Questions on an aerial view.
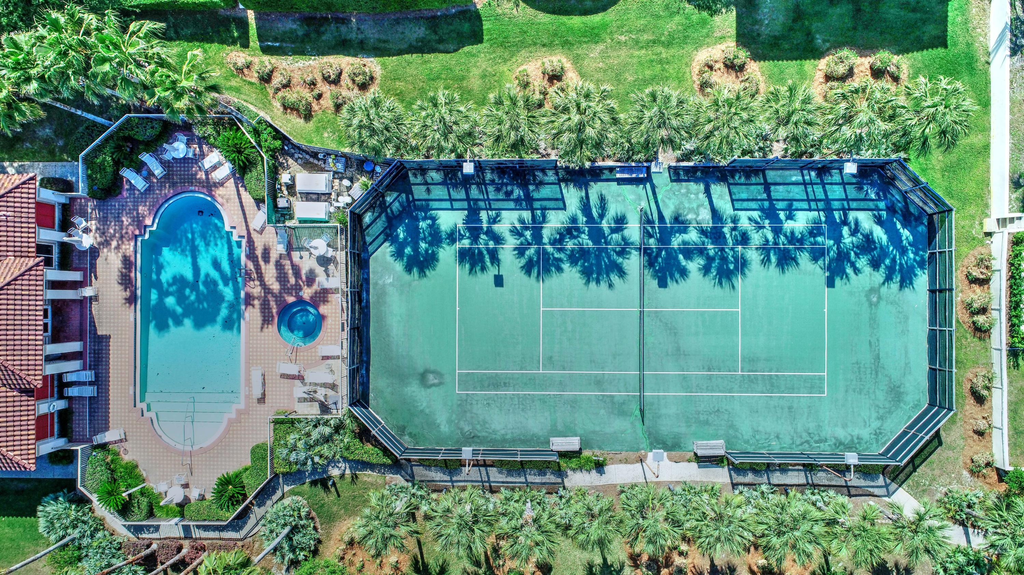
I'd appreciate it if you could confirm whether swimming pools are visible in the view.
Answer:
Yes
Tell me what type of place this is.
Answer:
sports ground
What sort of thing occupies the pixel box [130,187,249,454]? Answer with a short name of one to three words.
swimming pool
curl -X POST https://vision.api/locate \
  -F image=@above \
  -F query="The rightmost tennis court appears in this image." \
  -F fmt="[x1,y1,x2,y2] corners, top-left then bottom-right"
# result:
[360,170,927,452]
